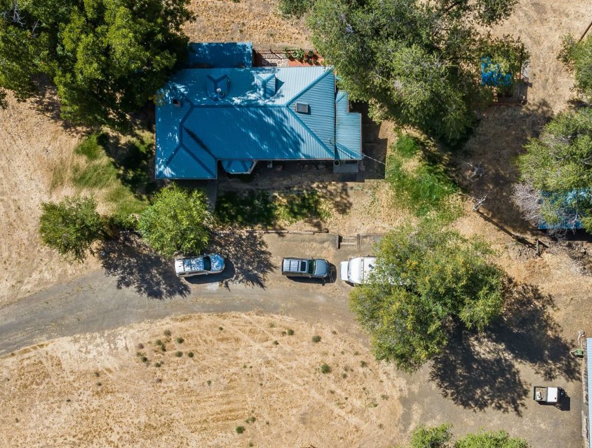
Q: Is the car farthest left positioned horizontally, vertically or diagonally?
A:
horizontally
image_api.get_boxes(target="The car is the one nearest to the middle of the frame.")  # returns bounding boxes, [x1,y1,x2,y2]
[282,257,330,280]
